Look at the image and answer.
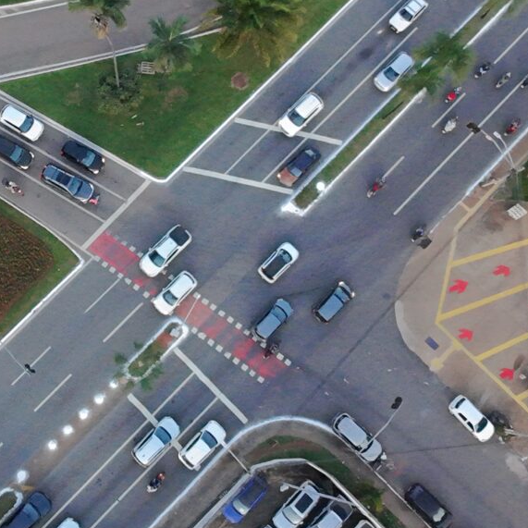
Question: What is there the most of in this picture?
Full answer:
The bulk of the photo consists of paved ground.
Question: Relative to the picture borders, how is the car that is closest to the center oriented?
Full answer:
I'd say the car that is closest to the center is aligned diagonally in the picture.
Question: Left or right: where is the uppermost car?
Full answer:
The uppermost car appears in the right half of the scene.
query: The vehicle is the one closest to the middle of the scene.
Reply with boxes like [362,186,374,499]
[256,241,299,285]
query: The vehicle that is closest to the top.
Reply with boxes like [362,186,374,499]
[388,0,428,35]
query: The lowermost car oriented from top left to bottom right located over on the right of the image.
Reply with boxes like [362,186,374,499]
[399,477,453,528]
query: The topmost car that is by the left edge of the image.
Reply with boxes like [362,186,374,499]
[0,104,44,141]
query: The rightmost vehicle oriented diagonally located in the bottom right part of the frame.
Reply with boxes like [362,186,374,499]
[443,391,495,443]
